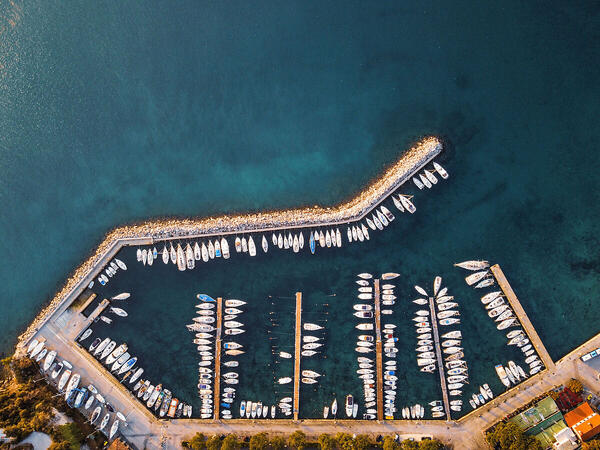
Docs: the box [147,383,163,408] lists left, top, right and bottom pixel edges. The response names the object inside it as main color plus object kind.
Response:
white boat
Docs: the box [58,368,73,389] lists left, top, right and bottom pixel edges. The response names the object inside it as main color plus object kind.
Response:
white boat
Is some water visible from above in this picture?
Yes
